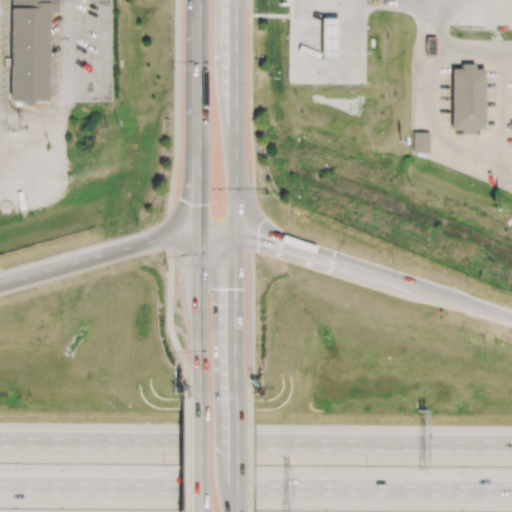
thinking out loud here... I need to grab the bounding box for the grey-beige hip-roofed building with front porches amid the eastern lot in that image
[456,64,486,134]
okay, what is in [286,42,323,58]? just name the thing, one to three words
vehicle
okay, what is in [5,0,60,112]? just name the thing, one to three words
building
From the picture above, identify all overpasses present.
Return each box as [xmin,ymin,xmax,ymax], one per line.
[182,386,258,512]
